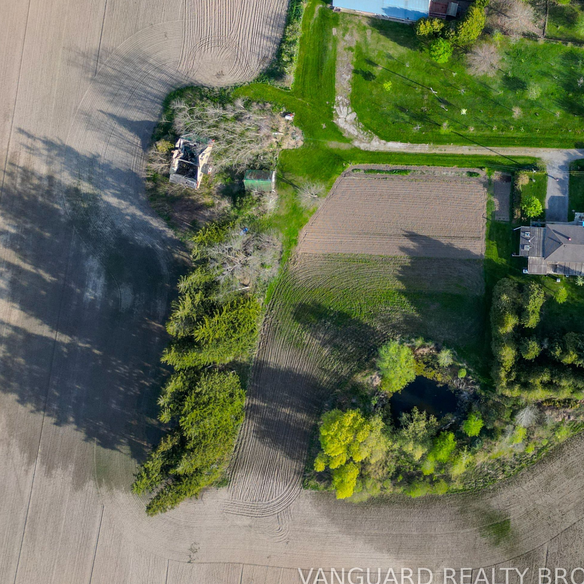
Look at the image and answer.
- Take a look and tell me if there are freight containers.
No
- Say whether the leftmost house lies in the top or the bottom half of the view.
top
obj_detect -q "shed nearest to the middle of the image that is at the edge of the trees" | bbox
[244,169,277,192]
